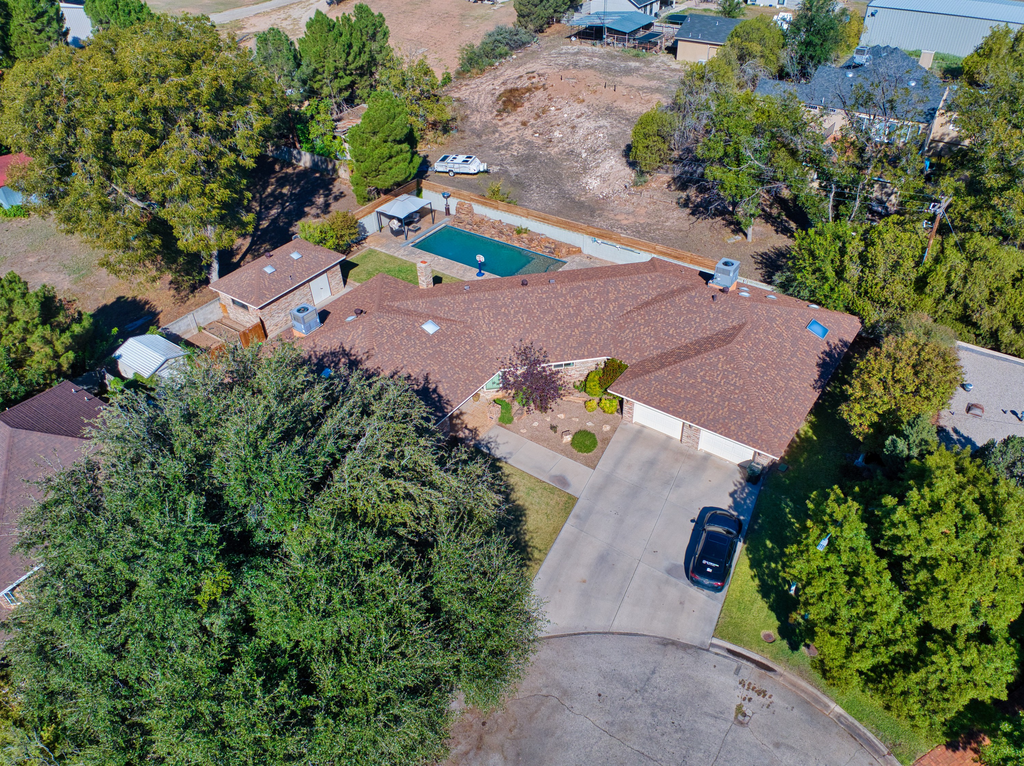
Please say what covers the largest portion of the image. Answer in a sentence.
What you mostly see from above here is trees.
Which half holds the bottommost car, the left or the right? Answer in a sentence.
It is on the right.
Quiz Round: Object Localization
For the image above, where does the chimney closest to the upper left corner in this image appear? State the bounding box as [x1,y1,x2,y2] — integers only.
[417,258,436,288]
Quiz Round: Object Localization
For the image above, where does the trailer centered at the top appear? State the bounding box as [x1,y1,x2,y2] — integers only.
[436,150,493,174]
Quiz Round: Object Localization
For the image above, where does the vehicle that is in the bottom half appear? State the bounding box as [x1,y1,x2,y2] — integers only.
[692,507,749,590]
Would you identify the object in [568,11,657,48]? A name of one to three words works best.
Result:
barn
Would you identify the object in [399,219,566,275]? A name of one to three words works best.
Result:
swimming pool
